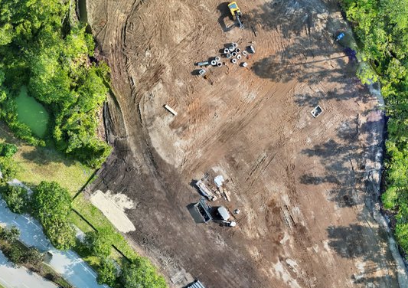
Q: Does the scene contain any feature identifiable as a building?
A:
No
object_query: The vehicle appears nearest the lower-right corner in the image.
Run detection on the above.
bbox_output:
[218,207,232,222]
